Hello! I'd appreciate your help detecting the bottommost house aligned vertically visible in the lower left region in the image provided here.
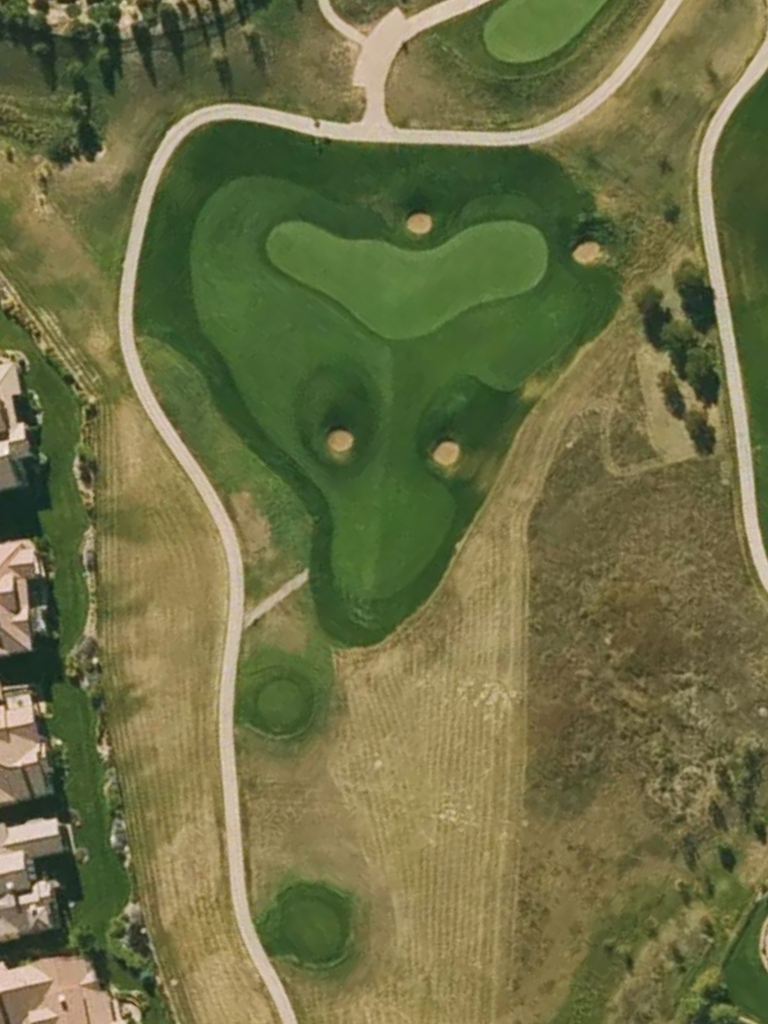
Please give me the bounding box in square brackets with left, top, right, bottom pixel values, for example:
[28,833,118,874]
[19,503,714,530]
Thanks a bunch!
[0,816,60,950]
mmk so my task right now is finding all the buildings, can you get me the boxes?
[0,354,27,490]
[0,692,45,807]
[0,538,33,653]
[0,955,119,1024]
[0,816,60,950]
